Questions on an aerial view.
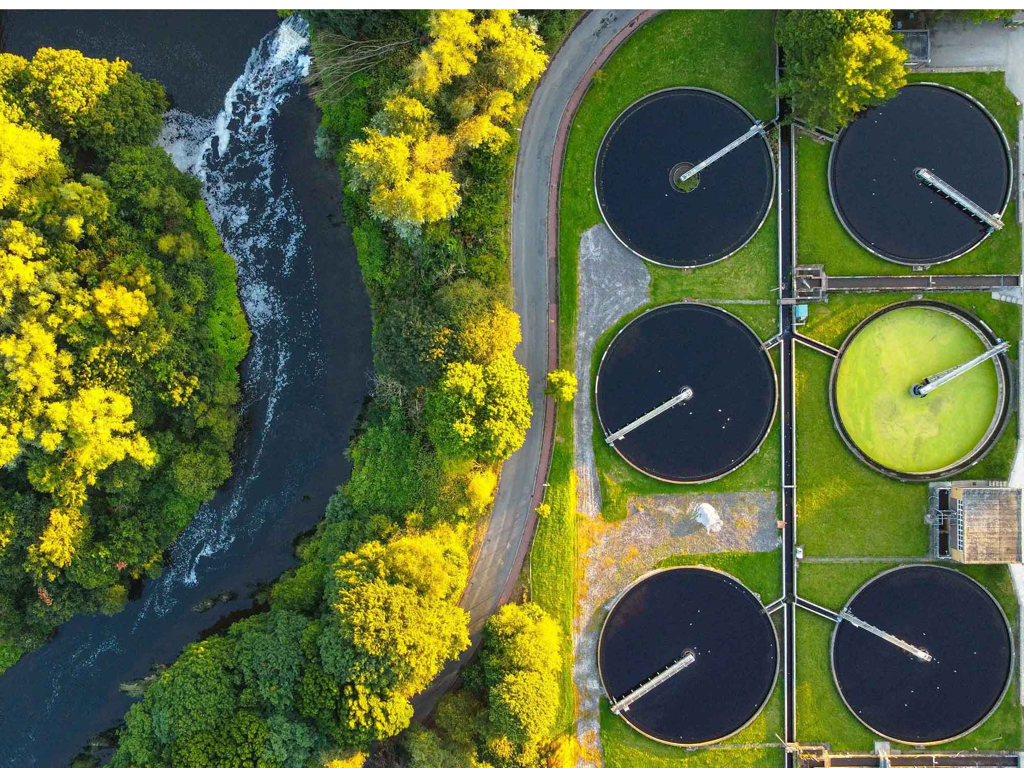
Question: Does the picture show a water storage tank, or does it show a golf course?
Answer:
water storage tank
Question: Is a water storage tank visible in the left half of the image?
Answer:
No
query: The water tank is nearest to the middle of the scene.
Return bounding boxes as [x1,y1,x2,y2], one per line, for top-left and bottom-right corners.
[595,301,778,483]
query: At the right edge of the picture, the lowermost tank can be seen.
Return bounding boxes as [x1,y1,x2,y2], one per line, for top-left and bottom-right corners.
[830,563,1014,747]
